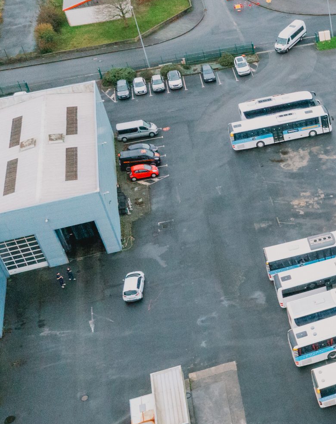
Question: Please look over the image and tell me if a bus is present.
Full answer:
Yes, this view includes a bus.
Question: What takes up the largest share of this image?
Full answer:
The largest share of the image is taken up by paved ground.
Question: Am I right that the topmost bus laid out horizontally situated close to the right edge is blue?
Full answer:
No, from above the topmost bus laid out horizontally situated close to the right edge looks white.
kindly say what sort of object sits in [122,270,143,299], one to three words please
car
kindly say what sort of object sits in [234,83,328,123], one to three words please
bus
